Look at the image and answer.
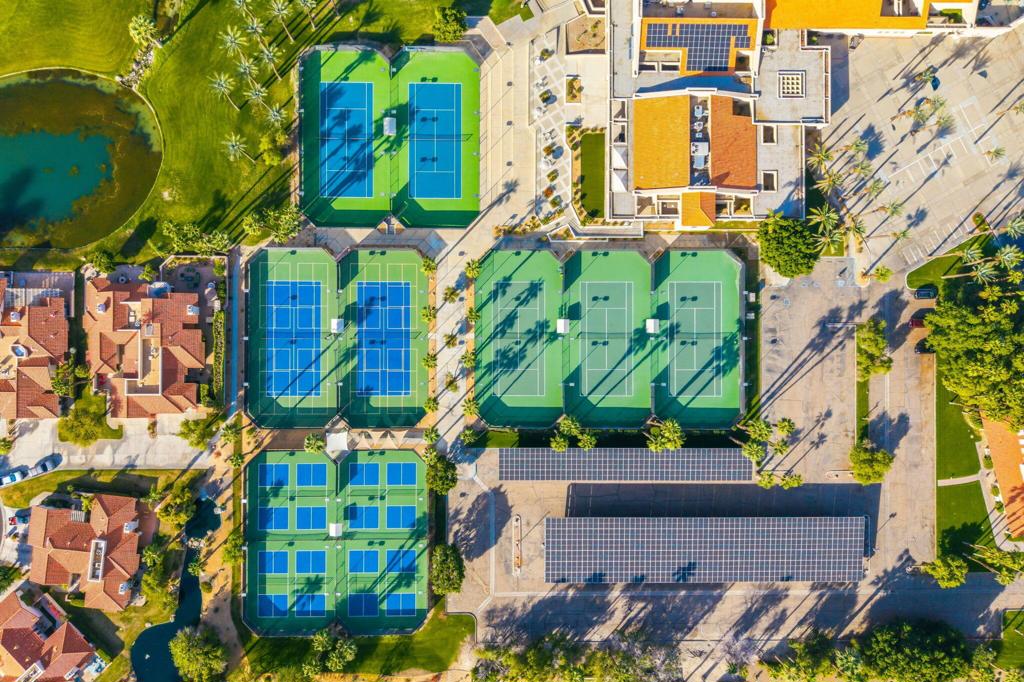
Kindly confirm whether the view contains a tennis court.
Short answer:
Yes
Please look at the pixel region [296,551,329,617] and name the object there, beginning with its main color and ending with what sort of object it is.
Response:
blue sports court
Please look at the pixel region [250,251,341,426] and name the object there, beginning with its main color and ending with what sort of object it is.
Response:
blue tennis court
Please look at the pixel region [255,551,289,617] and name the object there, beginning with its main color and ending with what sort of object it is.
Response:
blue sports court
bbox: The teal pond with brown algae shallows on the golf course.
[0,68,163,249]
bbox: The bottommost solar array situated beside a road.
[545,517,865,583]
